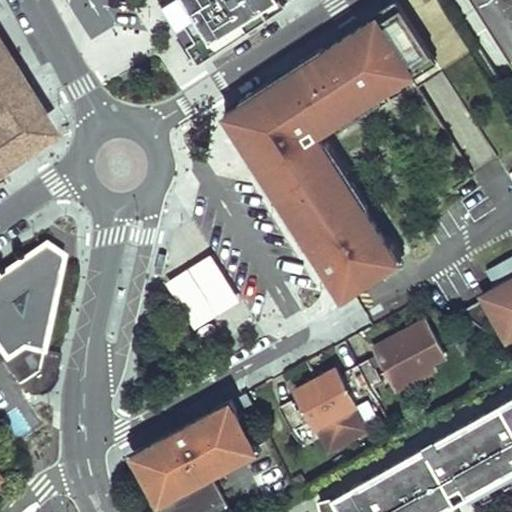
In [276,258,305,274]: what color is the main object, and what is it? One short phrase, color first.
white vehicle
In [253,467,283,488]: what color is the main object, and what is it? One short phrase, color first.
white truck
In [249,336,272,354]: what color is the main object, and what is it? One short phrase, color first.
white car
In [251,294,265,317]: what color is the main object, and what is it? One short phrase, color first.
white car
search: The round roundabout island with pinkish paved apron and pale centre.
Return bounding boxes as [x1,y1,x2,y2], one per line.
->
[94,138,148,192]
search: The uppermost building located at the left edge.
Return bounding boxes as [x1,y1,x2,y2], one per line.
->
[0,40,60,179]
